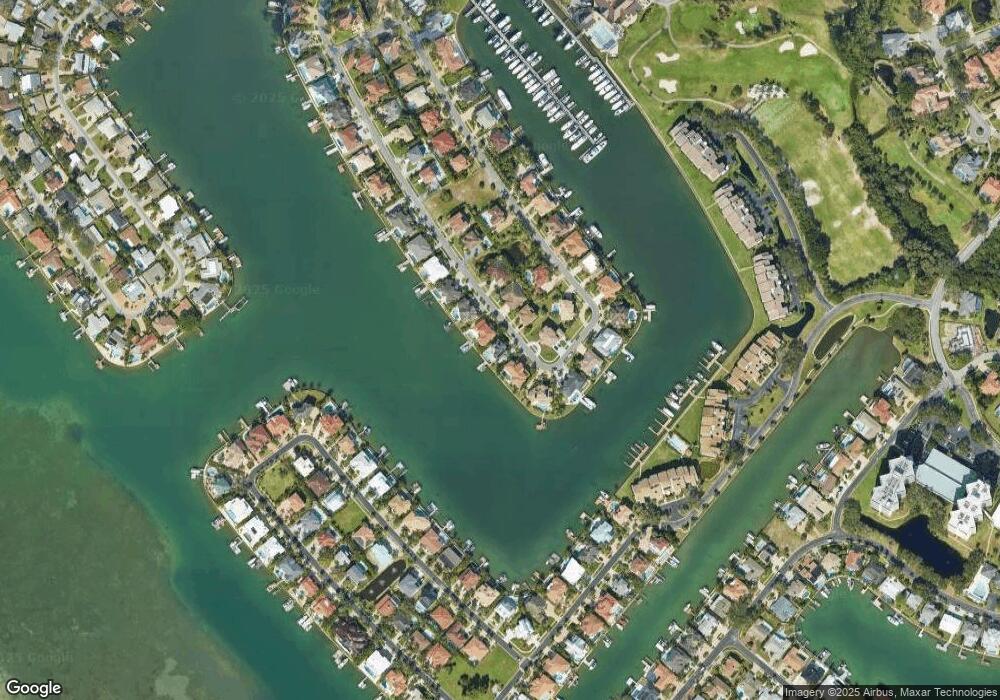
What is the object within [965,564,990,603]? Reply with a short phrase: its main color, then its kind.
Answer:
white swimming pool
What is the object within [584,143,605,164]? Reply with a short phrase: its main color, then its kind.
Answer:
white boat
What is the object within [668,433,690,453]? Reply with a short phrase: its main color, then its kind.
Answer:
white swimming pool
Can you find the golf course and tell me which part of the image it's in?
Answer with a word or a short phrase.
top right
